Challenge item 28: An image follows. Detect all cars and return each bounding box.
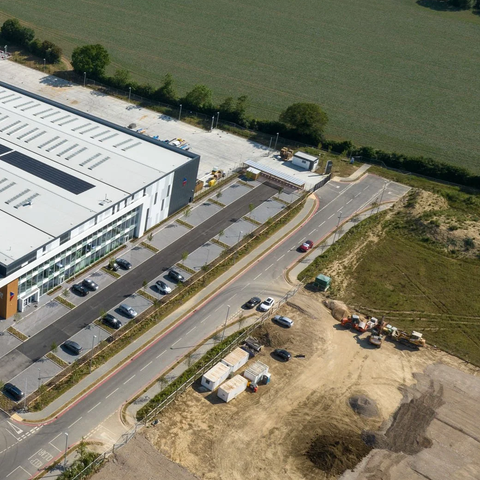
[114,257,134,269]
[63,338,85,354]
[2,381,25,400]
[109,260,121,270]
[103,313,123,329]
[259,296,276,310]
[71,284,89,295]
[167,268,187,283]
[270,346,295,362]
[118,302,139,318]
[154,278,174,293]
[81,277,100,291]
[245,295,264,308]
[273,311,296,327]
